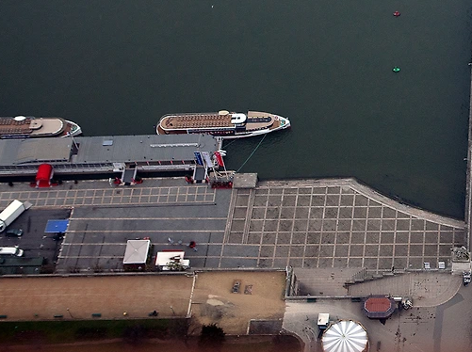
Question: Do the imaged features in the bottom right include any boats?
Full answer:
No, no boat appears in the bottom right.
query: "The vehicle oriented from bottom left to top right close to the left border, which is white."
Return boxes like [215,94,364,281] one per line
[0,192,26,233]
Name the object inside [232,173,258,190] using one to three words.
pier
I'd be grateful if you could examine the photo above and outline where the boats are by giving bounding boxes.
[0,111,84,139]
[155,107,292,141]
